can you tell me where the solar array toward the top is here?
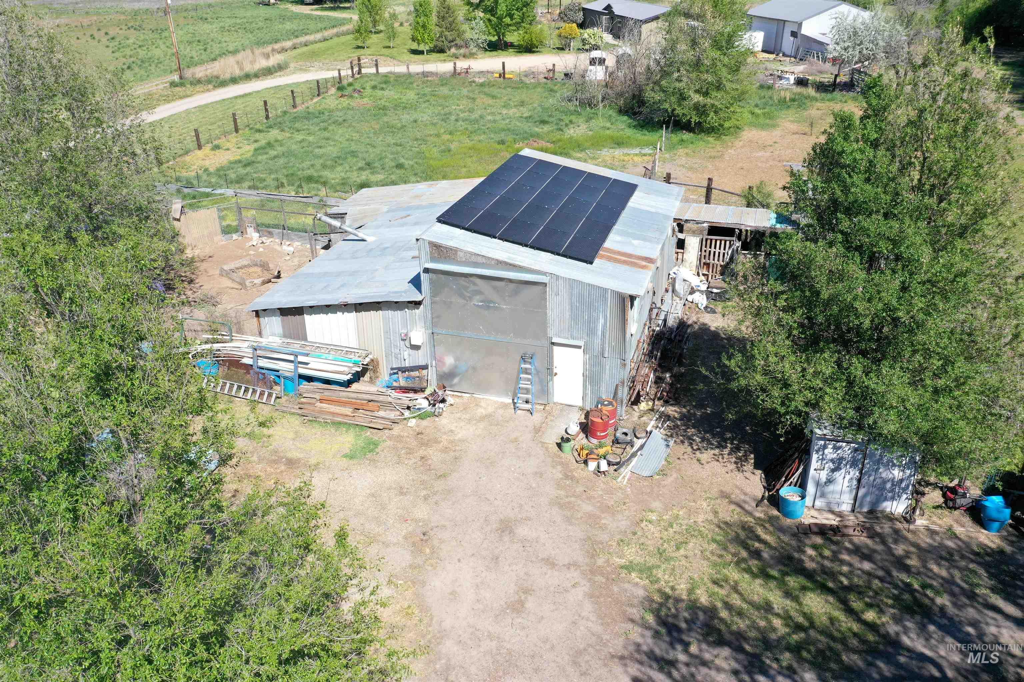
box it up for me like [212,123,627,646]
[436,153,638,266]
